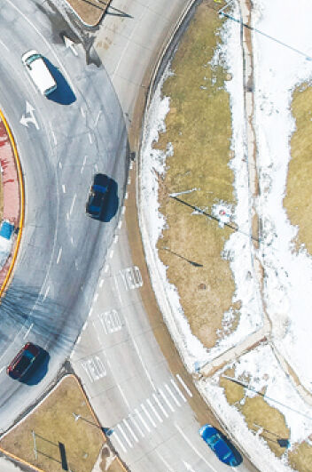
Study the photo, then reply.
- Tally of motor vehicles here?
4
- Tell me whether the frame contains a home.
No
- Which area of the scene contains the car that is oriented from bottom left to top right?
bottom left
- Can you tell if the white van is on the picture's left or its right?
left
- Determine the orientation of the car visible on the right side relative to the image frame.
on a diagonal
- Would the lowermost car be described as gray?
No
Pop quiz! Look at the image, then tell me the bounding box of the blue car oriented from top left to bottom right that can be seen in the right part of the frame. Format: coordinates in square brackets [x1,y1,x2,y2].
[202,425,239,468]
